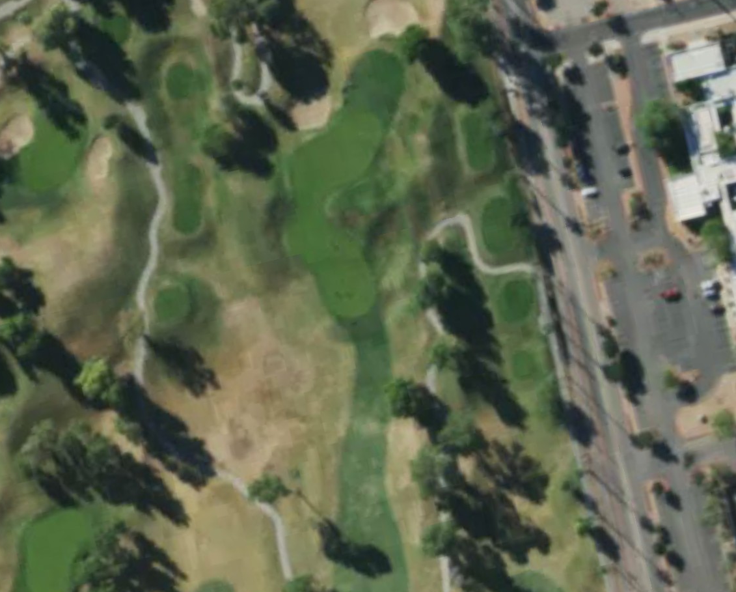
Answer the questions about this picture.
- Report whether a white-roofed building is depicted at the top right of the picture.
Yes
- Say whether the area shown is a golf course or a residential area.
golf course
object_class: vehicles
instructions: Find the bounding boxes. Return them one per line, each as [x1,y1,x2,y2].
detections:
[617,168,633,177]
[663,290,678,298]
[698,280,715,289]
[700,288,717,297]
[580,187,596,196]
[615,145,631,154]
[710,304,725,312]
